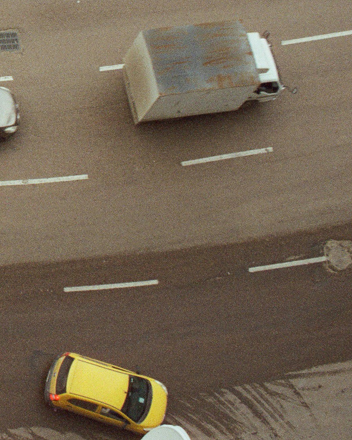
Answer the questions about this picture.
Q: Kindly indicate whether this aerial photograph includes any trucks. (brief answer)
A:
Yes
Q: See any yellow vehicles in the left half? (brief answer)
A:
Yes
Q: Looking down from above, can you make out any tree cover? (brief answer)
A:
No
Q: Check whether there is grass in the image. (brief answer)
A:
No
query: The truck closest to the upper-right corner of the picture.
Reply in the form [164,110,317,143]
[126,22,292,123]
